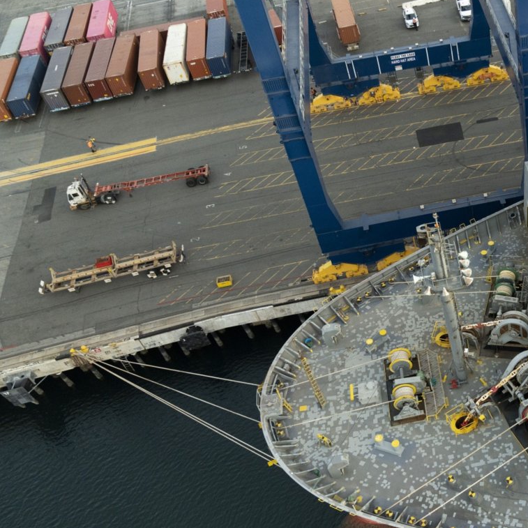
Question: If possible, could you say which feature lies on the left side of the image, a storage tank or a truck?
truck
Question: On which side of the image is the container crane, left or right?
right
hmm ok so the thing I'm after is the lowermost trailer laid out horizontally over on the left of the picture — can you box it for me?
[28,235,183,295]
